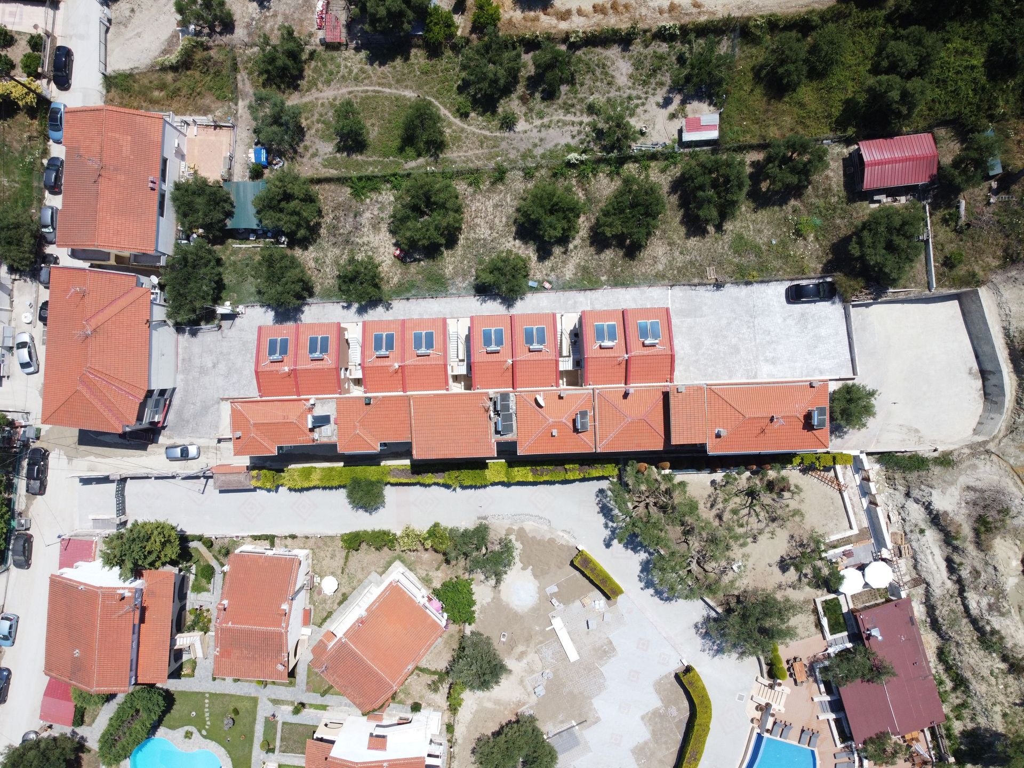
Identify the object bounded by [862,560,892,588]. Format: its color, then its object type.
white umbrella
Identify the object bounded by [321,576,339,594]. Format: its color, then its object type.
white umbrella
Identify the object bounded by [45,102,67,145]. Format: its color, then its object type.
blue car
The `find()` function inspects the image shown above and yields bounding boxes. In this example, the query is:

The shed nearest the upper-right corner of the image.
[857,133,938,205]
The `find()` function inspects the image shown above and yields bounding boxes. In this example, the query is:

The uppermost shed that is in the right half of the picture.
[680,113,719,146]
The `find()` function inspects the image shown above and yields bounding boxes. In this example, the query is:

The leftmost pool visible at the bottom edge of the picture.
[127,734,225,768]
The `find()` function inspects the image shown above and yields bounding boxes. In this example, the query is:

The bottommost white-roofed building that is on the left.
[306,696,443,768]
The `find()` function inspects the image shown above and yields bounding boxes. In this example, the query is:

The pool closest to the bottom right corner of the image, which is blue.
[743,732,822,768]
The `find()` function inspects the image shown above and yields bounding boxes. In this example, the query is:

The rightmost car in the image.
[785,280,835,303]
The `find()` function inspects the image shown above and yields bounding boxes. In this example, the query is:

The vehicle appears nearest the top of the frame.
[50,45,77,92]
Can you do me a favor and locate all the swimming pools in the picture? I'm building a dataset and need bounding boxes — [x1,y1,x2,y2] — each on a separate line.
[743,732,822,768]
[127,734,225,768]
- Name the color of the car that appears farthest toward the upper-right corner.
black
